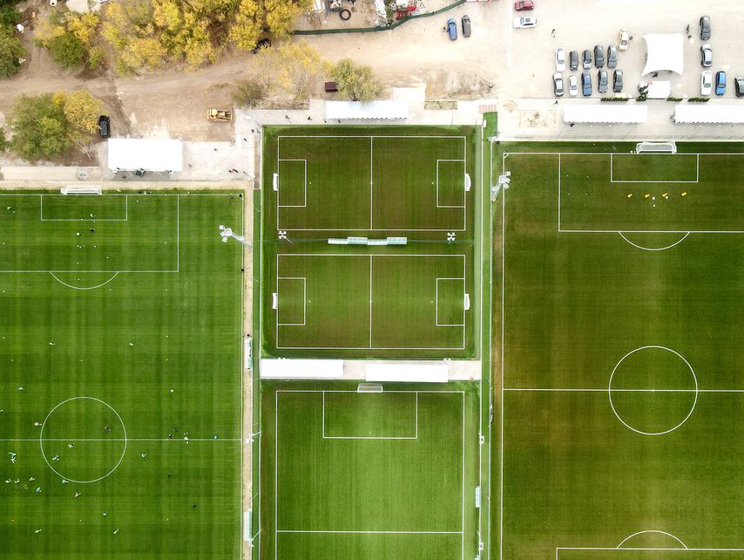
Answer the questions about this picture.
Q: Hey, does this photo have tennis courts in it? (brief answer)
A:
No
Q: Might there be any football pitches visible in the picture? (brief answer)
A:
Yes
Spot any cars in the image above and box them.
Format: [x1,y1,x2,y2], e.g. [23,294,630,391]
[514,15,538,28]
[583,48,593,69]
[461,13,473,37]
[555,47,566,71]
[594,43,606,67]
[701,43,713,66]
[582,71,594,94]
[598,69,609,91]
[447,17,458,38]
[553,73,564,94]
[735,75,744,96]
[568,74,580,95]
[97,113,109,137]
[607,44,619,67]
[569,49,581,71]
[701,71,712,94]
[514,0,535,10]
[618,26,631,50]
[700,13,712,38]
[716,71,729,94]
[613,69,625,90]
